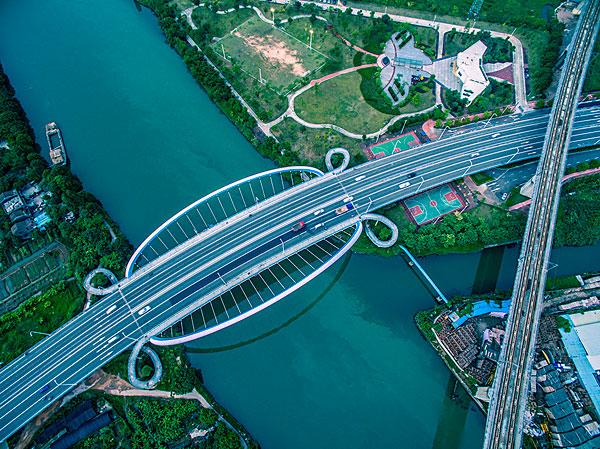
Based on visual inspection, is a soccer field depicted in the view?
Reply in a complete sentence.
Yes, the frame does contain a soccer field.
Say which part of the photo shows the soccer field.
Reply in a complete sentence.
Look in the top portion of the view to spot the soccer field.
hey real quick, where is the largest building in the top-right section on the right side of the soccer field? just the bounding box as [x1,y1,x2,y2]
[455,39,513,107]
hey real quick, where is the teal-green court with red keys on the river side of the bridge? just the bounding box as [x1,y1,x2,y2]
[398,182,469,226]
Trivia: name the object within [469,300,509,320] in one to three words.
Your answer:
shed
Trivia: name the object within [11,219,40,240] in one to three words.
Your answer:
house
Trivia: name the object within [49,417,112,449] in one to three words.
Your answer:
shed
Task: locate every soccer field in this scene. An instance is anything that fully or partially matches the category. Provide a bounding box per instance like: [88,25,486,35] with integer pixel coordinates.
[212,15,329,94]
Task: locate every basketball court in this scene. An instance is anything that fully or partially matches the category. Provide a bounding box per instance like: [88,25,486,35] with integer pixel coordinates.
[398,182,469,226]
[363,128,423,161]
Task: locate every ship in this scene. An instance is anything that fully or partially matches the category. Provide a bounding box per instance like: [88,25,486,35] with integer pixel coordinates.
[44,124,65,170]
